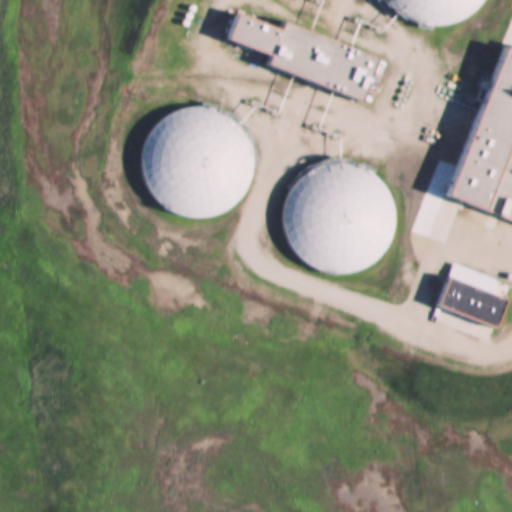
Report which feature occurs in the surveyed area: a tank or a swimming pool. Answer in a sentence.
I can see a tank in this picture.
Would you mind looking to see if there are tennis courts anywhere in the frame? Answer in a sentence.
No, no tennis court can be seen from above.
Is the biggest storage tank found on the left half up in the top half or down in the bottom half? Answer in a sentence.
You can find the biggest storage tank found on the left half in the top half.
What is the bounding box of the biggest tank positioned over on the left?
[140,100,256,220]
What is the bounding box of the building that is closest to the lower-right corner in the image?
[436,263,509,327]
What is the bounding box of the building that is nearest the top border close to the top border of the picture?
[227,14,378,100]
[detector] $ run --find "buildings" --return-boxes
[444,50,512,224]
[436,263,509,327]
[227,14,378,100]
